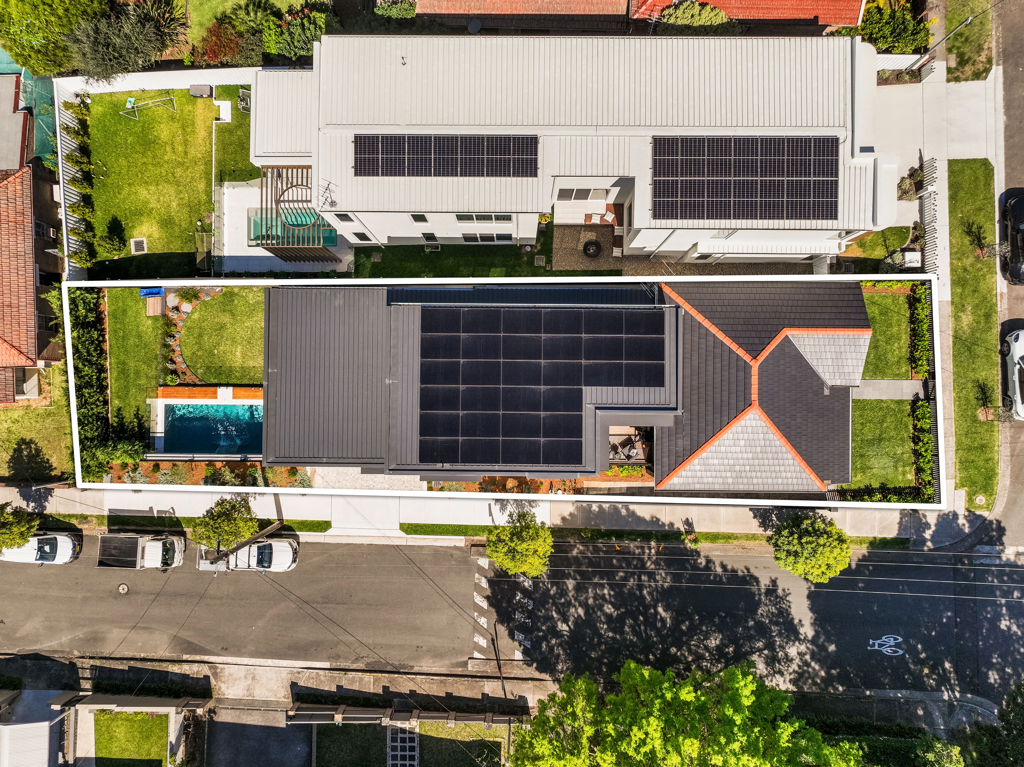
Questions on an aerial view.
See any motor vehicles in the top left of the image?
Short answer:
No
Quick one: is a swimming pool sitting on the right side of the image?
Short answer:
No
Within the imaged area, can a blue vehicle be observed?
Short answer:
No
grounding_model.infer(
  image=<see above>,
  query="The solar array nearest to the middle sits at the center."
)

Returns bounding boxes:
[418,308,668,464]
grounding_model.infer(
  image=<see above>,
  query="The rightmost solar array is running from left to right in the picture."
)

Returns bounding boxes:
[649,135,842,220]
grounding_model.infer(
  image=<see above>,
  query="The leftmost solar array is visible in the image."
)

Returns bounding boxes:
[351,134,541,177]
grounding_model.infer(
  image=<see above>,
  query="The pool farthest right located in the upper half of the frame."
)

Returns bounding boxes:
[249,209,337,247]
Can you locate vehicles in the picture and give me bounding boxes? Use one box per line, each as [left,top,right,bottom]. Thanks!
[1007,332,1024,419]
[1000,197,1024,289]
[0,529,88,571]
[198,533,301,576]
[101,527,188,572]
